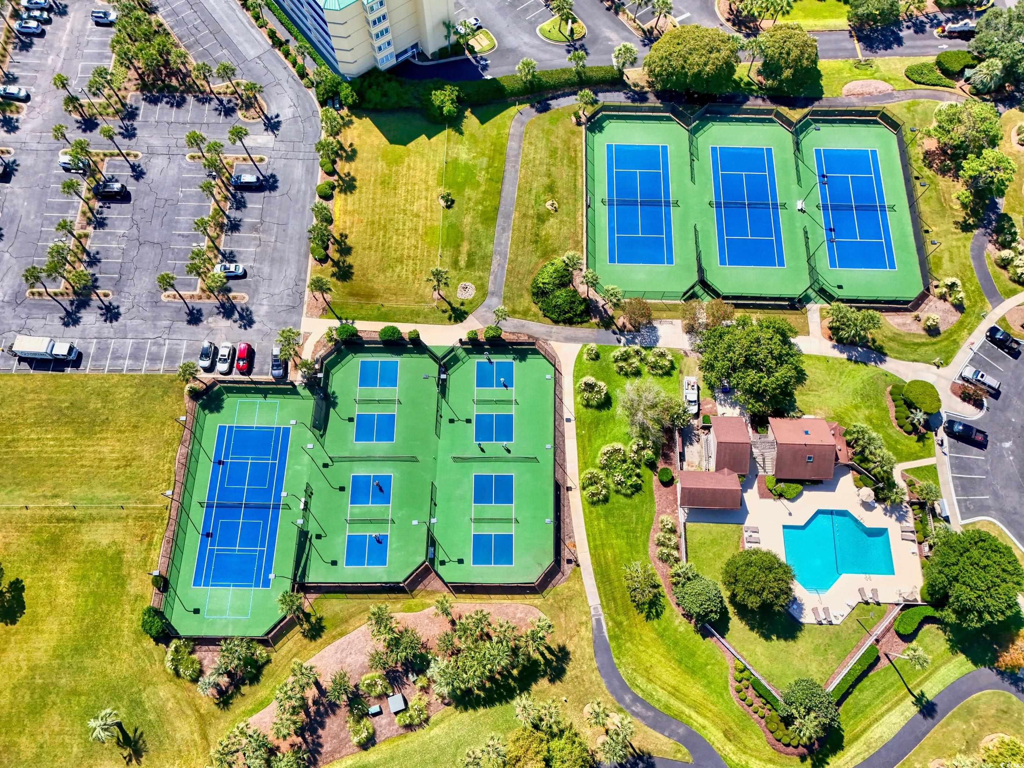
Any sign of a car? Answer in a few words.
Yes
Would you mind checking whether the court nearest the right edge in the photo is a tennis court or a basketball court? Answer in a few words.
tennis court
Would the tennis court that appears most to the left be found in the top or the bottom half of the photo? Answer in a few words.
bottom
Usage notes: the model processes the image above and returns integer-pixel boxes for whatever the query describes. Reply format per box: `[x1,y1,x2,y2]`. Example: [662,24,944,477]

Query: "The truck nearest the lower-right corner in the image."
[944,422,988,446]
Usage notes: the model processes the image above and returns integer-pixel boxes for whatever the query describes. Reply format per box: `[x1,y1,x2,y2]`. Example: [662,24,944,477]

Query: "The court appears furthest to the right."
[792,118,924,309]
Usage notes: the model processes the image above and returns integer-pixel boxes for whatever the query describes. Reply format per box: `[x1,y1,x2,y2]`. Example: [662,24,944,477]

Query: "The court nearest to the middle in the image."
[435,347,555,456]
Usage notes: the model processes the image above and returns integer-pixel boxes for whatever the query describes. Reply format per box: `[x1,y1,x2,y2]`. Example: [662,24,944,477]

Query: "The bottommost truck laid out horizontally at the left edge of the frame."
[12,341,78,365]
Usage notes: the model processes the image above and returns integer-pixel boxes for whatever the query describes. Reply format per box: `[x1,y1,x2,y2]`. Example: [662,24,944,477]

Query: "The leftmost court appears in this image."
[163,367,325,637]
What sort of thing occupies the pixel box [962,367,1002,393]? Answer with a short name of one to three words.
car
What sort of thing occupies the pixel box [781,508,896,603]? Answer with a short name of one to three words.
swimming pool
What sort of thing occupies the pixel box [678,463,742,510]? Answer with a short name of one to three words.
building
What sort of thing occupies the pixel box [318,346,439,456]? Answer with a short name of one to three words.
sports court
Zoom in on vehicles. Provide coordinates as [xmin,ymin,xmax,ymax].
[215,263,245,278]
[269,346,286,380]
[231,174,261,189]
[12,341,78,365]
[235,343,253,372]
[683,376,700,413]
[962,367,1002,393]
[462,15,484,33]
[22,10,50,24]
[983,327,1023,355]
[217,344,234,373]
[0,87,29,101]
[91,9,118,24]
[22,0,50,11]
[197,340,216,369]
[0,166,10,178]
[14,20,43,35]
[93,184,127,200]
[944,422,988,446]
